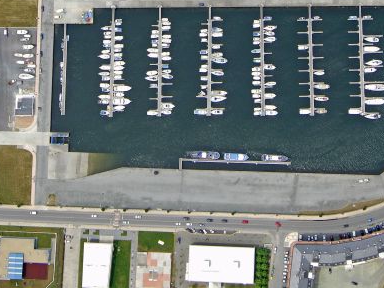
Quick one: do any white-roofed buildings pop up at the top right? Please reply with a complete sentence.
No, no white-roofed building is visible at the top right.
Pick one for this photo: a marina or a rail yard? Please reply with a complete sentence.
The picture captures a marina.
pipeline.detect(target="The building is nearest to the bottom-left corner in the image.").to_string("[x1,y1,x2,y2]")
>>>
[0,236,52,281]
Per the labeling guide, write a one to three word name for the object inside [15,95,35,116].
building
